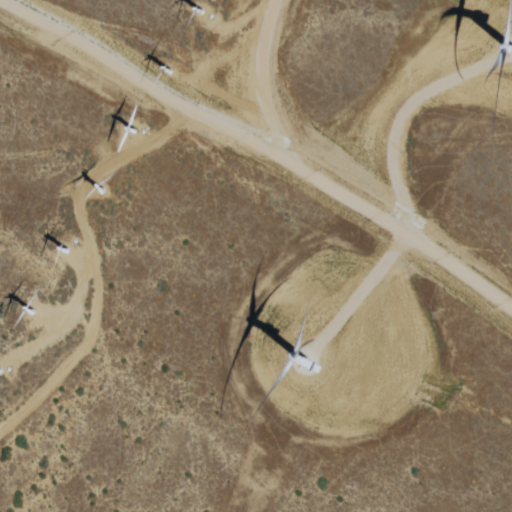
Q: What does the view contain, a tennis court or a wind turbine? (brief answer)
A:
wind turbine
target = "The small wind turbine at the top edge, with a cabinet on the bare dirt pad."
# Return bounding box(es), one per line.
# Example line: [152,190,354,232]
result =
[184,0,206,30]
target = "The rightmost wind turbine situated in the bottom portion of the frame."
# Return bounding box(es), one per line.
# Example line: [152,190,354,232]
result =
[249,296,322,427]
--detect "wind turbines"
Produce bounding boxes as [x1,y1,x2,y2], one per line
[81,170,111,198]
[115,106,139,150]
[48,241,70,268]
[487,0,512,117]
[249,296,322,427]
[184,0,206,30]
[151,60,174,88]
[14,287,36,328]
